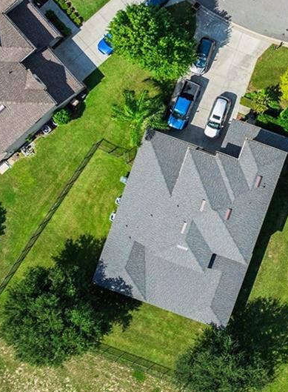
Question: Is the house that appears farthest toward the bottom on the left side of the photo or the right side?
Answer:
right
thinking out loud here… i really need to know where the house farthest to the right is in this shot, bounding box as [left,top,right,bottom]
[93,119,288,326]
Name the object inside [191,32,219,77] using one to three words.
car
